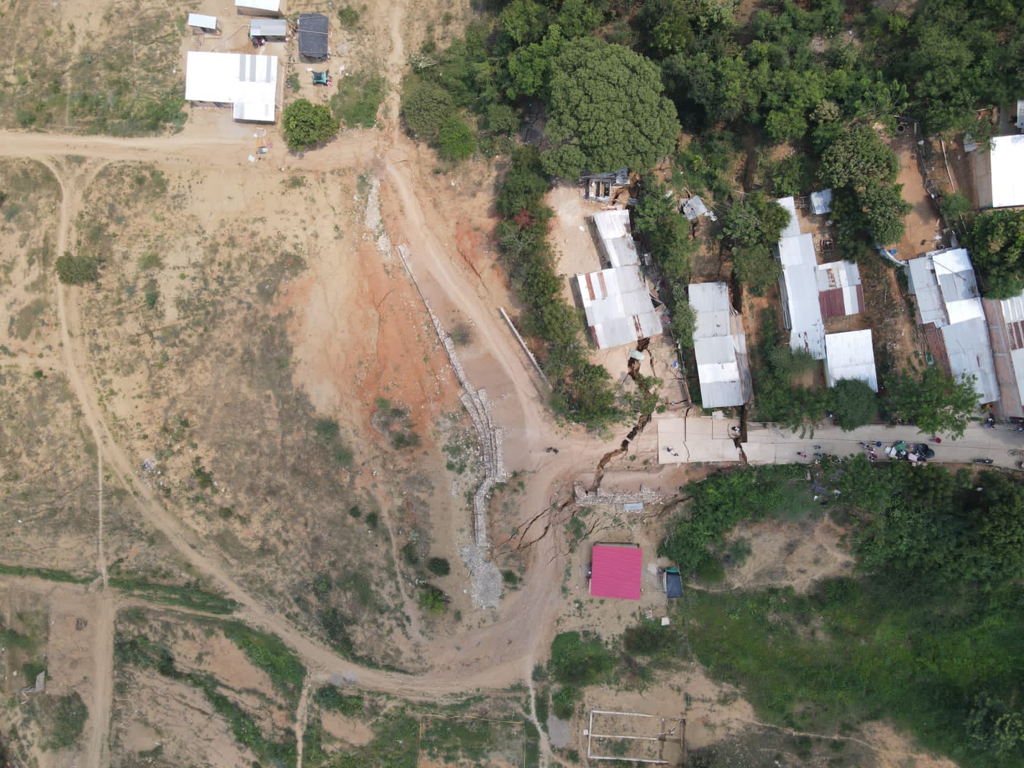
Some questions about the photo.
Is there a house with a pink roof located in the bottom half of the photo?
Yes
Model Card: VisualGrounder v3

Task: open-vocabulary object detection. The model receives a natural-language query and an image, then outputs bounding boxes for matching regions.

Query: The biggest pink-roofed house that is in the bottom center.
[590,543,642,600]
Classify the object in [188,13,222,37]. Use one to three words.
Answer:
shed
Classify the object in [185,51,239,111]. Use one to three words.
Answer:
house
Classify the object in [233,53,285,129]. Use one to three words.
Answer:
house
